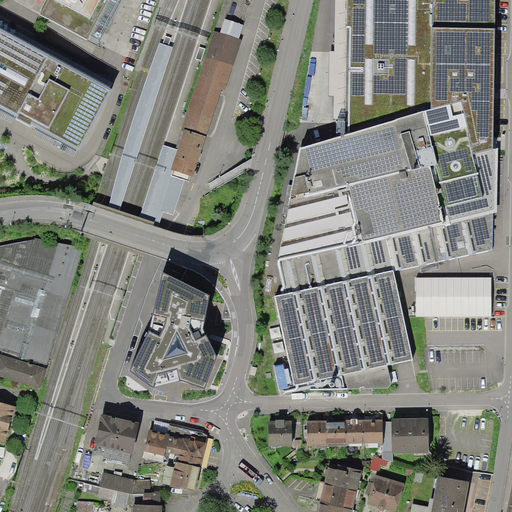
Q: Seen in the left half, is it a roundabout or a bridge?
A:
bridge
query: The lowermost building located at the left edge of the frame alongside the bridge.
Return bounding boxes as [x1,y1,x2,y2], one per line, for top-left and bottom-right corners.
[0,238,82,366]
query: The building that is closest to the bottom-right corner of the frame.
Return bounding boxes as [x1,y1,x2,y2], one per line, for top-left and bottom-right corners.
[430,475,470,512]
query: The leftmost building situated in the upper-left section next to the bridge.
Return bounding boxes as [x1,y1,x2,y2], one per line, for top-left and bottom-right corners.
[0,20,115,152]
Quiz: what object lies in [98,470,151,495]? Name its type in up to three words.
house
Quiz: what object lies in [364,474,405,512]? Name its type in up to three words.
house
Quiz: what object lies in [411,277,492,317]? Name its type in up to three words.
building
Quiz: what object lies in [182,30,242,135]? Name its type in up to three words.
shed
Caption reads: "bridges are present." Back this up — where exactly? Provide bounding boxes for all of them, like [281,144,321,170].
[82,202,208,270]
